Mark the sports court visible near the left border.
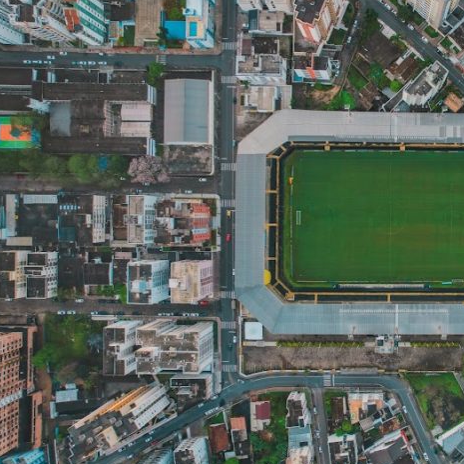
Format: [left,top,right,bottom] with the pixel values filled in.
[0,116,40,148]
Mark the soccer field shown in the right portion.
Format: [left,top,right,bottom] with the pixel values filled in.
[284,151,464,289]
